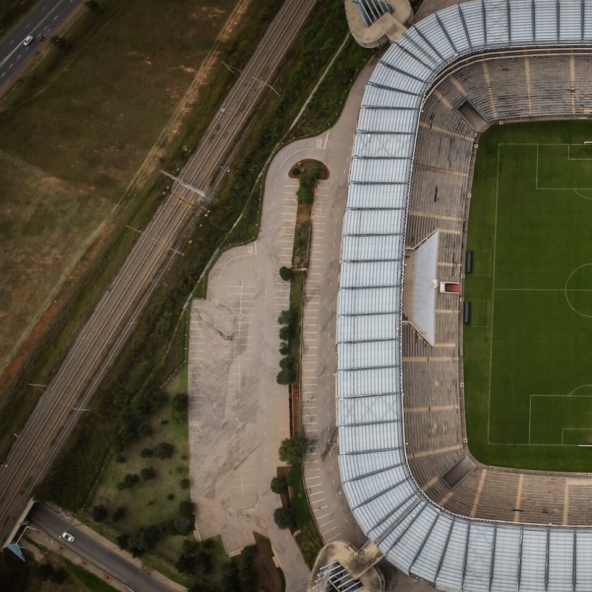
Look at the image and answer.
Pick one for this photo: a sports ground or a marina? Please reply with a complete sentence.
What you see here is a sports ground.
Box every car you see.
[22,36,34,46]
[62,532,76,543]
